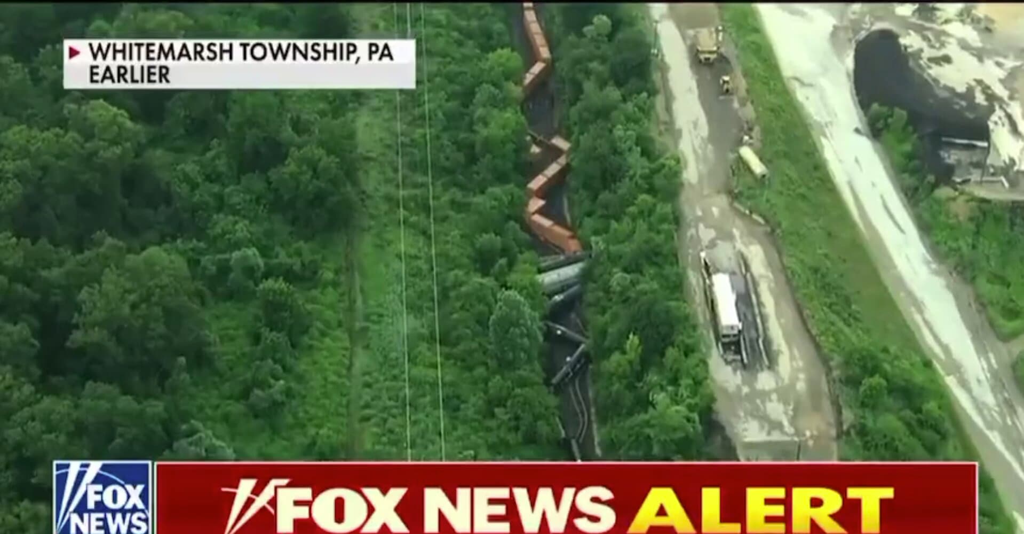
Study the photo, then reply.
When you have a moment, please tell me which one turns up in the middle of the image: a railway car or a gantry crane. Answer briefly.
railway car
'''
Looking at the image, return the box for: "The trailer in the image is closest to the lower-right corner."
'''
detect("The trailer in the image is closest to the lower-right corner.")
[711,273,739,337]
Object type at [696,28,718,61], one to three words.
truck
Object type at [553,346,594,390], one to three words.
rail car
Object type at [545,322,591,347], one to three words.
rail car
